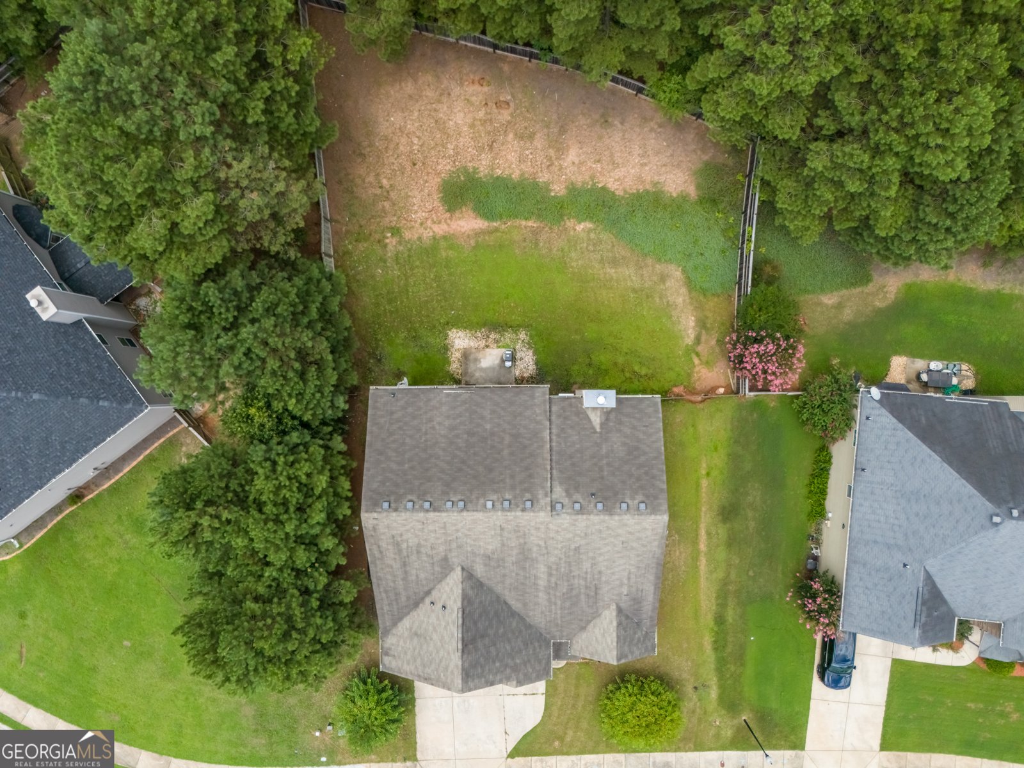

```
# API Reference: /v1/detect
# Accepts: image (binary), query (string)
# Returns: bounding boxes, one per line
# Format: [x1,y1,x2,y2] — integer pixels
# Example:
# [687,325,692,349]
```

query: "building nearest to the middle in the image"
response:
[361,385,668,693]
